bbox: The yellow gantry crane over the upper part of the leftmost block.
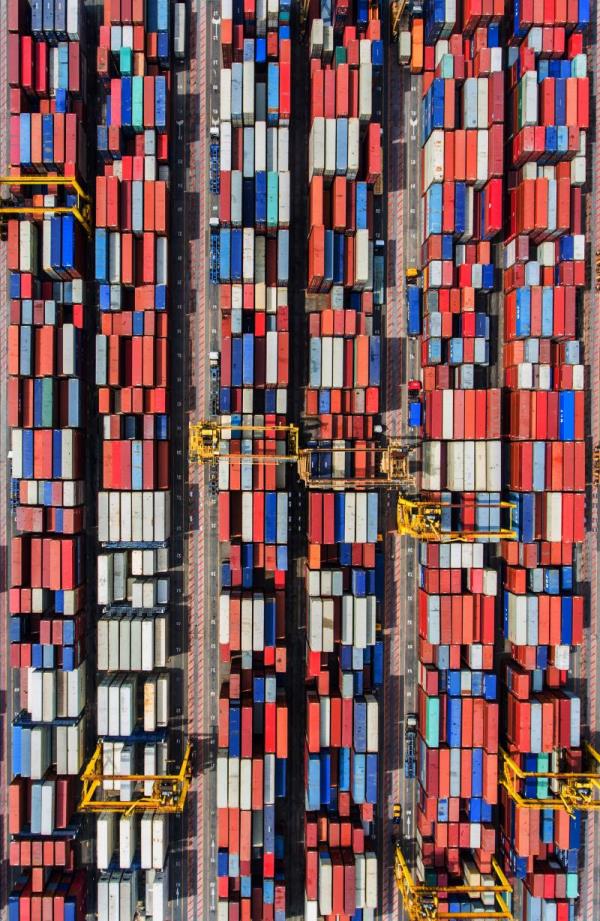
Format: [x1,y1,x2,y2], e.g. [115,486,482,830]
[0,177,97,247]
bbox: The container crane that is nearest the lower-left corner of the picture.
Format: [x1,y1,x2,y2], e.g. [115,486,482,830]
[80,733,199,829]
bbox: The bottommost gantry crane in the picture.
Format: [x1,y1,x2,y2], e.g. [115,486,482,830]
[391,833,516,921]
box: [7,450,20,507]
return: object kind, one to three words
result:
vehicle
